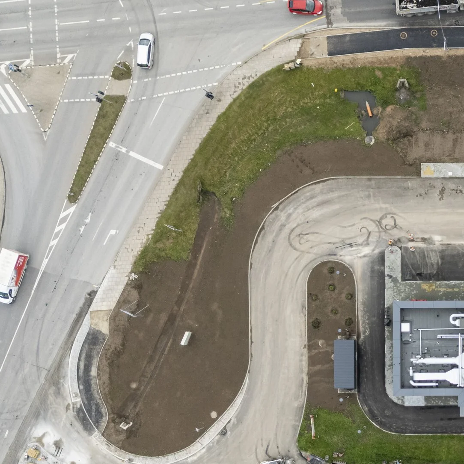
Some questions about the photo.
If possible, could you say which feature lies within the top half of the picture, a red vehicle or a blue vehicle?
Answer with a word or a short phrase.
red vehicle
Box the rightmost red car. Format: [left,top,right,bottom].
[287,0,325,19]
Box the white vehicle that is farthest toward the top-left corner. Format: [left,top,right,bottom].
[136,33,158,71]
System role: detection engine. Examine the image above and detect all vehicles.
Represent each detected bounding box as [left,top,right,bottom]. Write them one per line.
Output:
[396,0,464,19]
[0,247,26,304]
[260,455,296,464]
[136,33,158,71]
[287,0,325,19]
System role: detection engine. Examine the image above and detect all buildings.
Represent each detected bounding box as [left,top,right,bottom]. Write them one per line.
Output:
[334,340,357,388]
[393,300,464,417]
